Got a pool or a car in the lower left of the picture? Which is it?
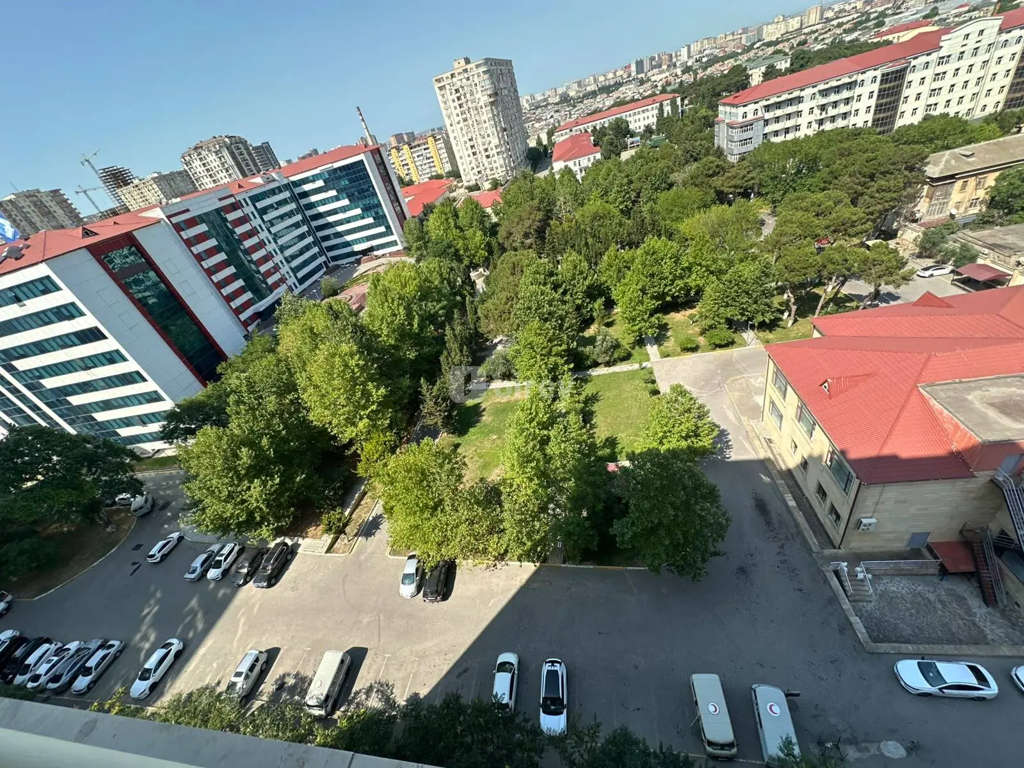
car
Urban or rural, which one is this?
urban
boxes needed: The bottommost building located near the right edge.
[759,284,1024,549]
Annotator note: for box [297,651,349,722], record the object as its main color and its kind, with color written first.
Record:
white van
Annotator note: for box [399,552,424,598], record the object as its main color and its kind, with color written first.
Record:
white car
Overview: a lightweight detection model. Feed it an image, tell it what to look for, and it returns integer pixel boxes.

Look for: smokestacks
[356,106,374,144]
